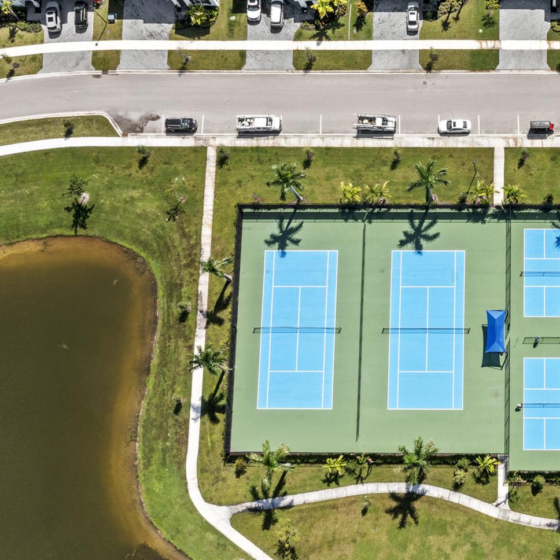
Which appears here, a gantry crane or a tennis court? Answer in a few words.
tennis court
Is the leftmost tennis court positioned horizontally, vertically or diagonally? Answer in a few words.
vertically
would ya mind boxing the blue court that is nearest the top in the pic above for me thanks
[524,229,560,317]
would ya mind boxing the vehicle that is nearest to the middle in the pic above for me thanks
[230,115,280,133]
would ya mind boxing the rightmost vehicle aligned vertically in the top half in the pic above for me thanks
[405,2,420,32]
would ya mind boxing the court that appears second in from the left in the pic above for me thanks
[388,250,465,410]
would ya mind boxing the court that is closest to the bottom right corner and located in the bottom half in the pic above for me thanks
[523,358,560,450]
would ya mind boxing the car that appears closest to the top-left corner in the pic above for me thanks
[44,2,60,34]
